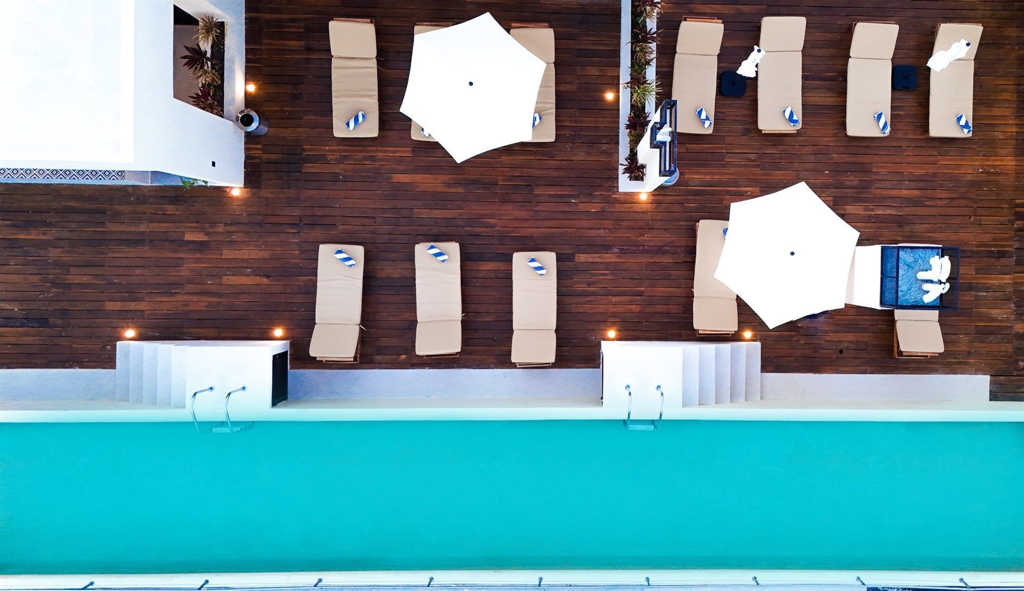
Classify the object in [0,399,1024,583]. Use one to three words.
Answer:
swimming pool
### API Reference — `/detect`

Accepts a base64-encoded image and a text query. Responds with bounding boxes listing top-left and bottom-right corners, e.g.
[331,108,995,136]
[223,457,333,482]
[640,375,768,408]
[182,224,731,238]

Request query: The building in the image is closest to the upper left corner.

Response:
[0,0,244,185]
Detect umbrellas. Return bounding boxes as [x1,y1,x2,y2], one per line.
[720,48,762,96]
[714,181,860,329]
[892,42,970,90]
[400,11,547,163]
